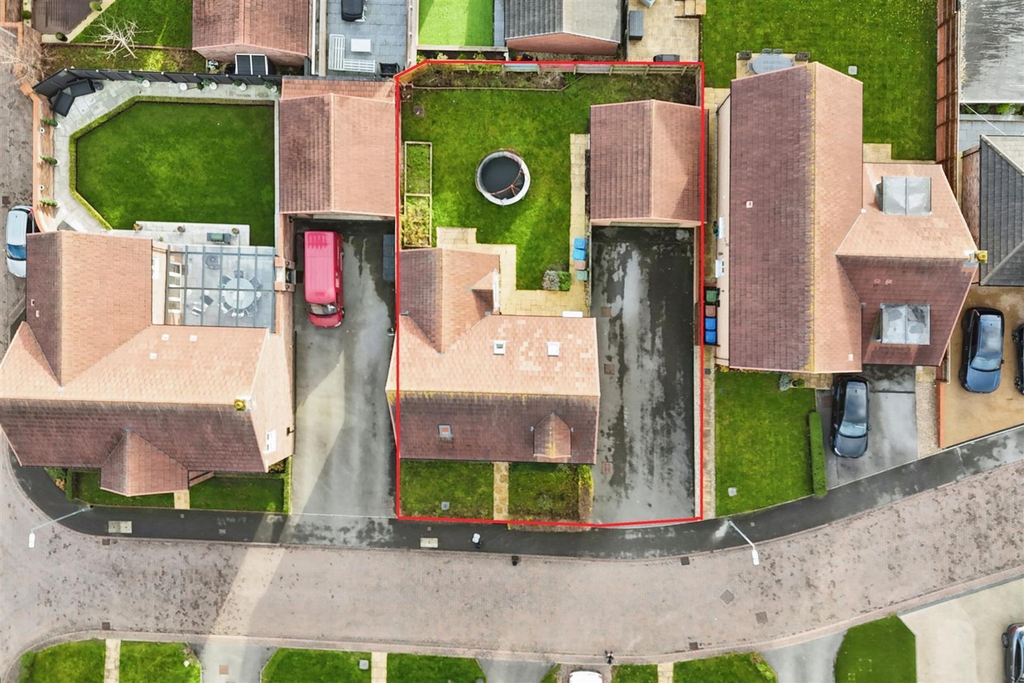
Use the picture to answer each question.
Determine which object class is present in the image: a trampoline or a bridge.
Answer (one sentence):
The one in the frame is a trampoline.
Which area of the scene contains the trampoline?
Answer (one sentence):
The trampoline appears toward the top of the photo.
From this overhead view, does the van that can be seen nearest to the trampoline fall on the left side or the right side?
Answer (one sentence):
The van that can be seen nearest to the trampoline appears in the left half of the scene.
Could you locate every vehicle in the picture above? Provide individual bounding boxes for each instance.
[958,308,1008,393]
[302,231,347,326]
[829,374,875,459]
[1011,314,1024,400]
[5,208,48,281]
[998,620,1024,683]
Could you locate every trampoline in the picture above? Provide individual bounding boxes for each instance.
[476,151,529,205]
